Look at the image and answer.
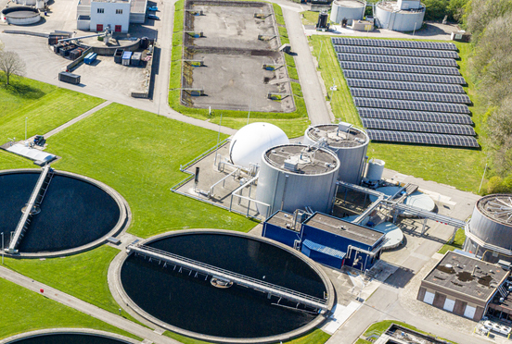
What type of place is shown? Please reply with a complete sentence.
What you see here is an industrial area.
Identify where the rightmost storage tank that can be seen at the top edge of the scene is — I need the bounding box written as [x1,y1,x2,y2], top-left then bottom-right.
[371,0,427,32]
